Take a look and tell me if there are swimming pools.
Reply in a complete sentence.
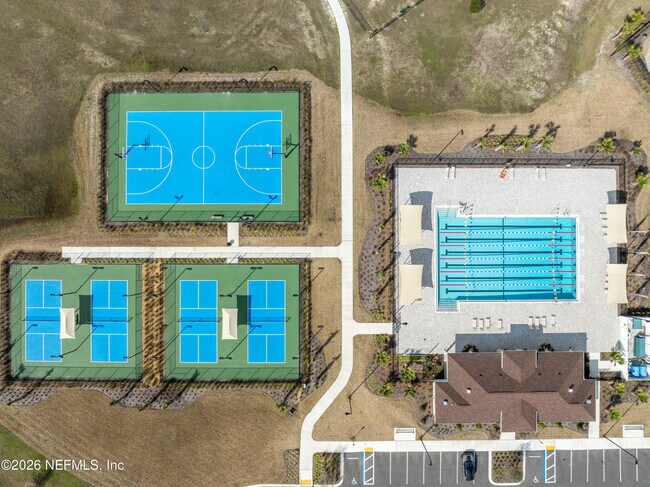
Yes, a swimming pool can be made out from above.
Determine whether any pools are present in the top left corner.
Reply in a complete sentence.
No, there's no pool to be seen in the top left corner.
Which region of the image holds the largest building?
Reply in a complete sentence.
The largest building is in the bottom right part of the image.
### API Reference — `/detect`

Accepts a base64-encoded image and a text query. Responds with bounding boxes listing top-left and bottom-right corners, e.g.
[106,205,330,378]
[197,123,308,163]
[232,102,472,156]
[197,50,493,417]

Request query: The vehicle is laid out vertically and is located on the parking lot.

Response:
[463,449,478,481]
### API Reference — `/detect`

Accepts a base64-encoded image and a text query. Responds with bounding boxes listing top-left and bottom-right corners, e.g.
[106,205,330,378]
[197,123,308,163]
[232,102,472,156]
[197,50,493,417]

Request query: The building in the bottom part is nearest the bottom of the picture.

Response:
[432,347,597,432]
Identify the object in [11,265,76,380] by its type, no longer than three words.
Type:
sports court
